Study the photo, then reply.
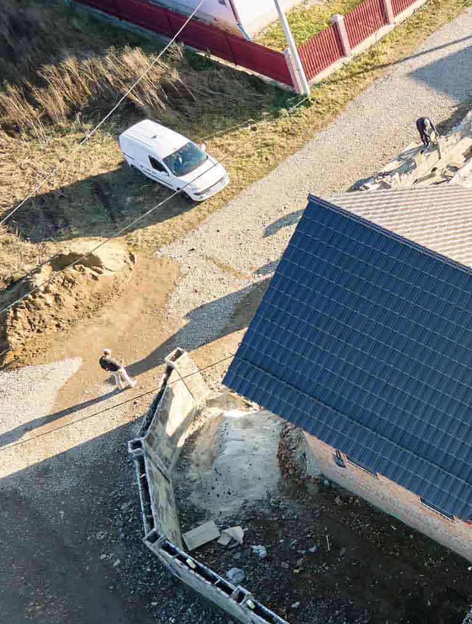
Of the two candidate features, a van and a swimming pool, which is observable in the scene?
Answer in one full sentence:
Looking from above, you can make out a van.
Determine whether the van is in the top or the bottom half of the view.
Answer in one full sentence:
You can find the van in the top half.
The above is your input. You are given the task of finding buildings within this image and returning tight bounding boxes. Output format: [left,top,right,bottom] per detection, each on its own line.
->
[138,0,310,42]
[222,183,472,563]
